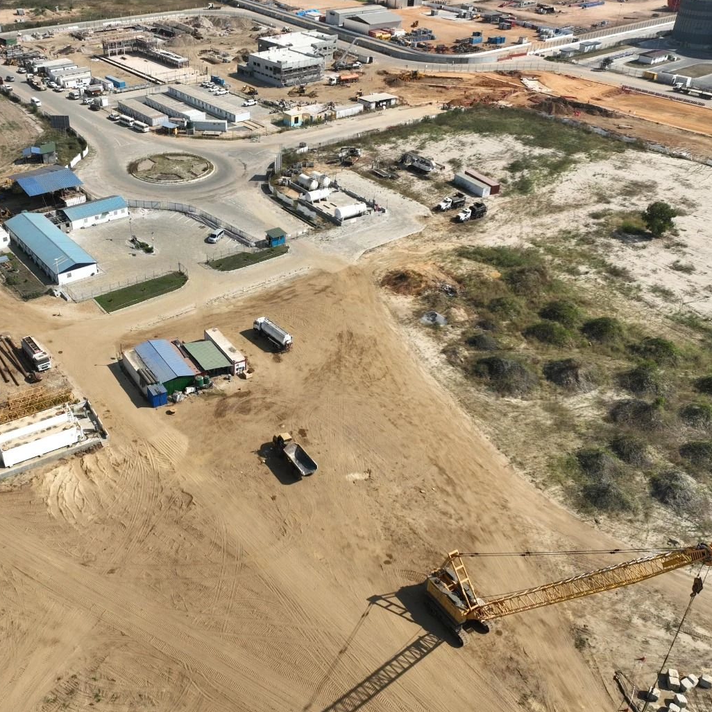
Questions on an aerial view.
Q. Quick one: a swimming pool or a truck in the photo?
truck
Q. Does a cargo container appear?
Yes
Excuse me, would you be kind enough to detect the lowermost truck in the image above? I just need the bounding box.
[276,430,322,477]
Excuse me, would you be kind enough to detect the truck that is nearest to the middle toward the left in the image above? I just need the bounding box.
[254,311,302,348]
